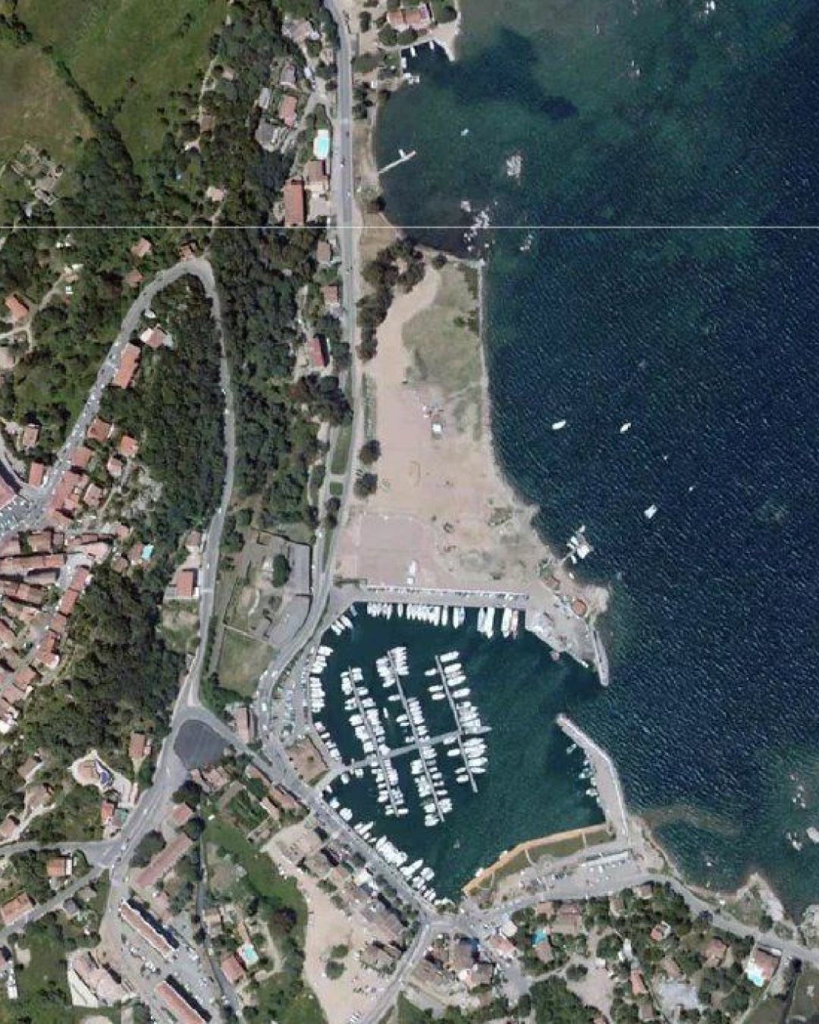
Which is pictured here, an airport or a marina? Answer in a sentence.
The picture captures a marina.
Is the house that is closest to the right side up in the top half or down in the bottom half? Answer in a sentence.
The house that is closest to the right side is in the bottom half of the image.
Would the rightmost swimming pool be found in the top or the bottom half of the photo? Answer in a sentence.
It is in the bottom half that the rightmost swimming pool appears.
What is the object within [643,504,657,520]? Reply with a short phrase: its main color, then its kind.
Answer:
white boat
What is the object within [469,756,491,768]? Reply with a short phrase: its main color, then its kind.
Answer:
white boat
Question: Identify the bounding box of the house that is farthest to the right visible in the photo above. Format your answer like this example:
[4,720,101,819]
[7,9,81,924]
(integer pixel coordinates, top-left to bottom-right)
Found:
[753,950,782,977]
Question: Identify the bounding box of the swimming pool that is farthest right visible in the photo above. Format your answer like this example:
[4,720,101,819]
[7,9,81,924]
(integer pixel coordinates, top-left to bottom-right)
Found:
[745,958,765,987]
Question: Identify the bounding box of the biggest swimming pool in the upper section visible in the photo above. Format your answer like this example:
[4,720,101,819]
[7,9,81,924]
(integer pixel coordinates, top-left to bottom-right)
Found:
[314,130,329,159]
